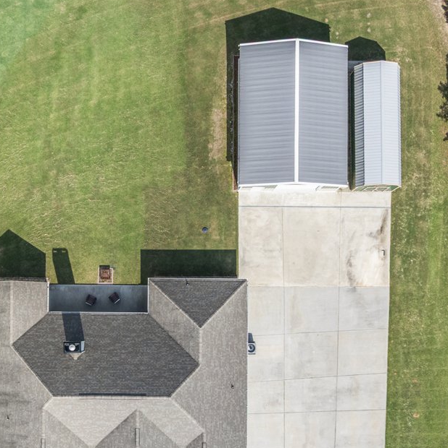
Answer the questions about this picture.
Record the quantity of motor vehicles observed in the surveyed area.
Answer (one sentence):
I count no motor vehicles.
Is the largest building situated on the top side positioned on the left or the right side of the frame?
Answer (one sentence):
It is on the right.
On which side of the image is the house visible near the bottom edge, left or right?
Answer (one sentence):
The house visible near the bottom edge sits on the left side.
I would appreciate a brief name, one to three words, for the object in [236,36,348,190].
building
